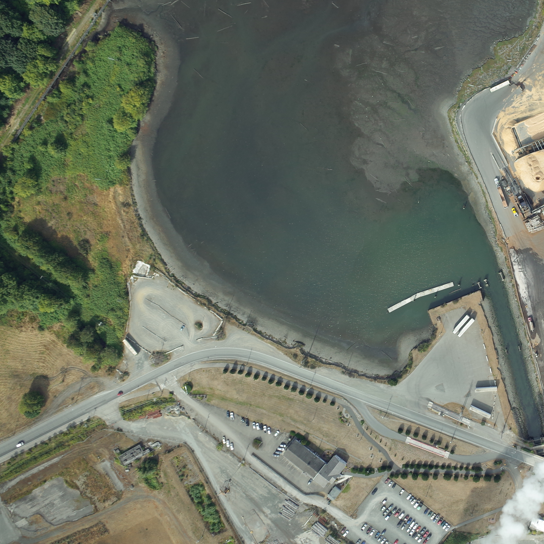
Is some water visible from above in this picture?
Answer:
Yes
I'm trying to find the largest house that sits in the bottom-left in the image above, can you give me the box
[119,443,152,465]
